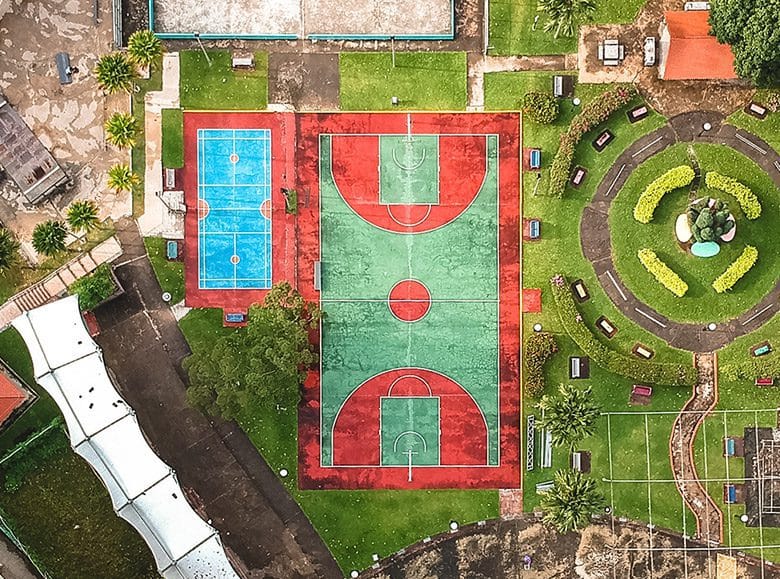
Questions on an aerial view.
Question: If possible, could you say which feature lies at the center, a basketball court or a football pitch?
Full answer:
The one visible at the center is a basketball court.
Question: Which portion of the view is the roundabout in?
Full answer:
The roundabout sits in the right section of the image.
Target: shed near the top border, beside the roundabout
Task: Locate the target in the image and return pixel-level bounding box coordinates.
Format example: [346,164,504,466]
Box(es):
[657,11,742,82]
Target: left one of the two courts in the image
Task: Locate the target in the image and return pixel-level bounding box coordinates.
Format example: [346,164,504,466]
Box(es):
[184,111,298,327]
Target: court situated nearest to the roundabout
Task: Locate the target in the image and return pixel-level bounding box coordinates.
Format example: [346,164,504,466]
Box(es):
[184,109,523,489]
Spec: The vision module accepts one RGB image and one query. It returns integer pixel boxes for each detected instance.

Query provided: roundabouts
[582,112,780,351]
